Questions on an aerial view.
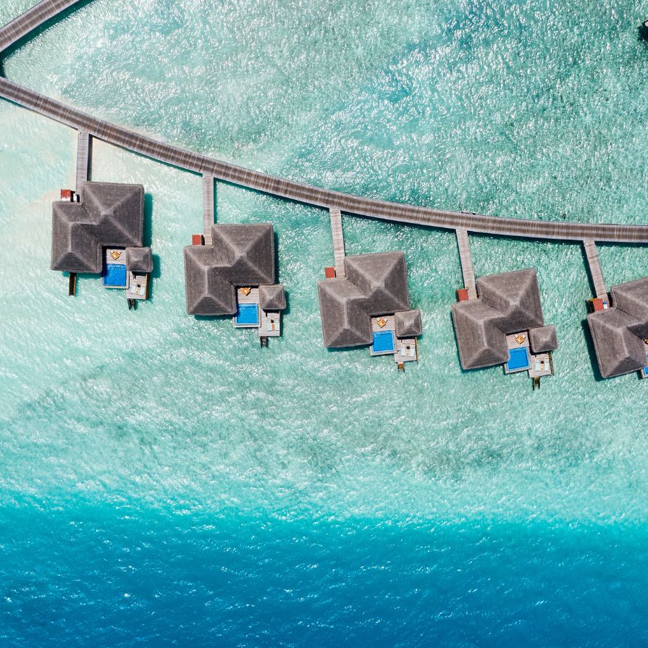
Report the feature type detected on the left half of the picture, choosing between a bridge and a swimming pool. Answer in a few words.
swimming pool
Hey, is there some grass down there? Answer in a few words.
No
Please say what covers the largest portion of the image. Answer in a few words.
water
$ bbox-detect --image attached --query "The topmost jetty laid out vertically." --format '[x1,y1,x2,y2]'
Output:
[76,130,92,202]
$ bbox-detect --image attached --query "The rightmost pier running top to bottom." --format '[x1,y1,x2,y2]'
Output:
[582,240,610,310]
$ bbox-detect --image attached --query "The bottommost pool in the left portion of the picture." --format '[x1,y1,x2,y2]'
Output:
[235,301,261,327]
